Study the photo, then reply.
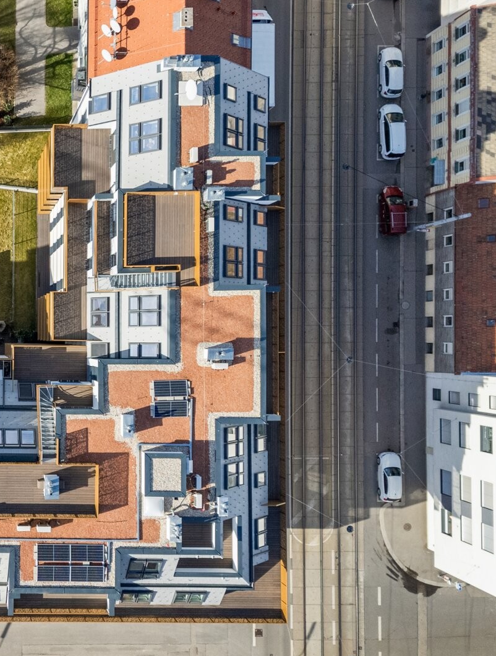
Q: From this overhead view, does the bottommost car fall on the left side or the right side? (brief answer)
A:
right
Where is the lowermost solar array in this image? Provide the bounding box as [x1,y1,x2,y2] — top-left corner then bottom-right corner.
[31,542,110,581]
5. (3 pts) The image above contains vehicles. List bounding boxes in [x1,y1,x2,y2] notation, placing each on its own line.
[372,49,403,101]
[371,451,402,502]
[253,0,275,115]
[372,187,404,235]
[372,107,404,162]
